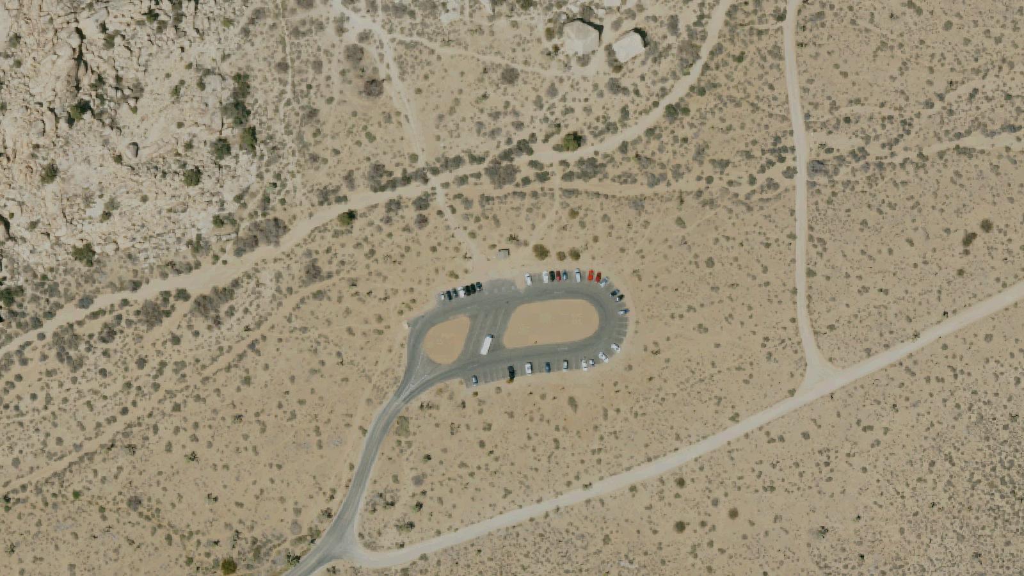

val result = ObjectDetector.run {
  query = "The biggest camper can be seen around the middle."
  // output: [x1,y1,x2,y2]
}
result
[480,335,494,355]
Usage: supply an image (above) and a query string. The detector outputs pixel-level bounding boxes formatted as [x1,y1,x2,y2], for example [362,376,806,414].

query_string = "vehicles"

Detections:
[599,276,609,287]
[464,285,471,296]
[445,290,453,301]
[588,269,594,281]
[595,272,602,283]
[575,268,581,283]
[525,273,532,286]
[610,288,620,297]
[451,288,459,298]
[550,270,555,281]
[543,270,548,283]
[526,362,532,375]
[556,270,561,281]
[563,360,568,371]
[477,282,482,291]
[615,294,625,302]
[618,308,630,314]
[470,283,476,294]
[609,342,620,353]
[580,359,588,372]
[589,358,594,366]
[473,375,478,385]
[545,362,550,372]
[440,291,446,301]
[458,287,465,299]
[480,335,494,355]
[598,351,609,363]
